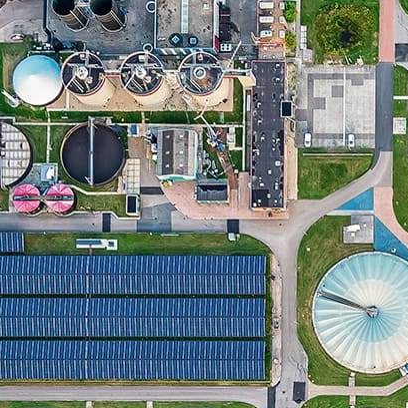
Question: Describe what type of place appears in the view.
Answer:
industrial area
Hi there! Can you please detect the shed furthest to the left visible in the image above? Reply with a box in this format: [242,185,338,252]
[41,164,59,182]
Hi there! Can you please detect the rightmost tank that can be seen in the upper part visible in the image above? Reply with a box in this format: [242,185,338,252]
[177,51,222,106]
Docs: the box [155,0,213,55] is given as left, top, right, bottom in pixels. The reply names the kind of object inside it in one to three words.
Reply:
building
